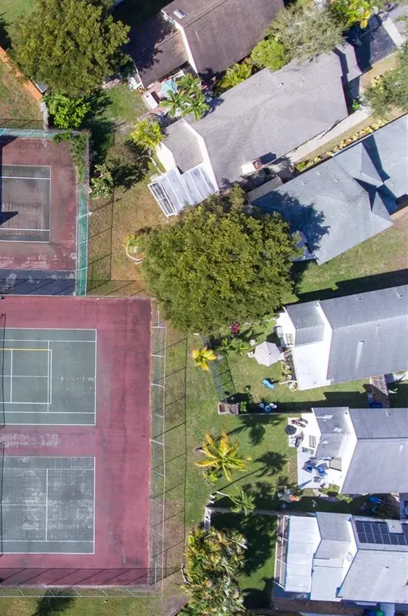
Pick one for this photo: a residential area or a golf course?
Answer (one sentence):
It's a residential area.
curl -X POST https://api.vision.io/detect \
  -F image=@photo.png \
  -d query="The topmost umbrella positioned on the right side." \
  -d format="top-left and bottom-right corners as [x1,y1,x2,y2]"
[251,340,279,367]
